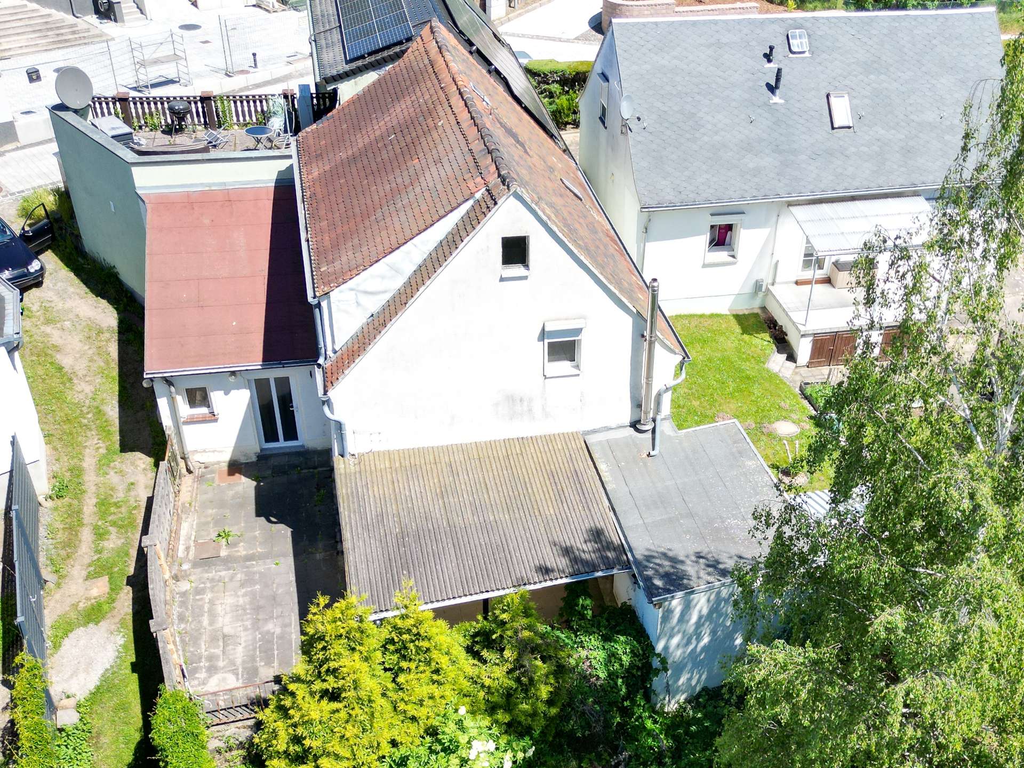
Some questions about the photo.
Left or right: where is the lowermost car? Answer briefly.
left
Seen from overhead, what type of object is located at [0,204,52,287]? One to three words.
car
